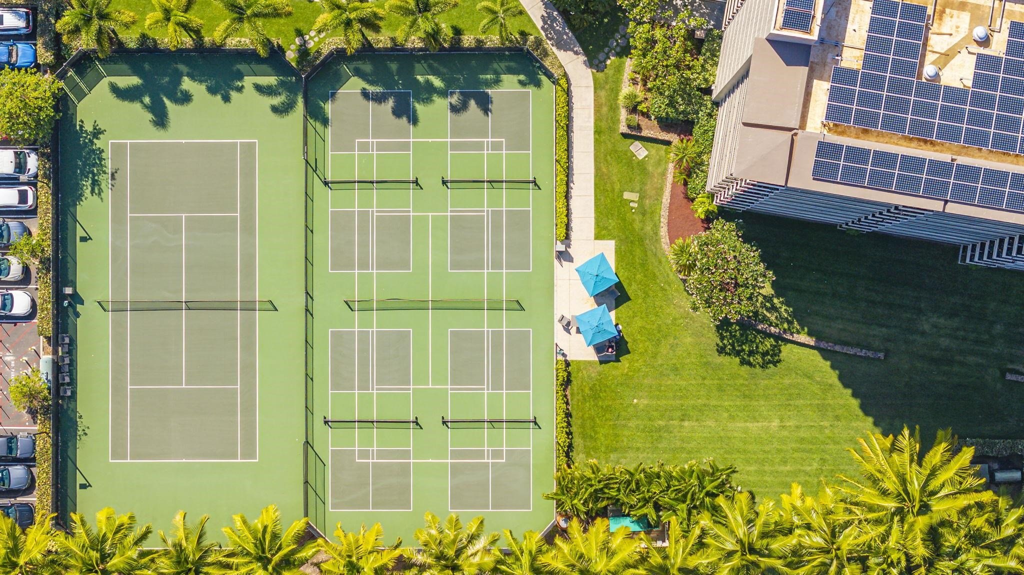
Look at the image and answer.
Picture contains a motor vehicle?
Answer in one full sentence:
Yes, there's a motor vehicle here.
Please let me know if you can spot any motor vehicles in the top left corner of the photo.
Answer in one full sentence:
Yes, I can see a motor vehicle in the top left corner of the photo.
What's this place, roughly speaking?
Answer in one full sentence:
What you see here is a sports ground.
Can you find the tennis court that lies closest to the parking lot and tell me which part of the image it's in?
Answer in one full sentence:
The tennis court that lies closest to the parking lot sits in the left section of the image.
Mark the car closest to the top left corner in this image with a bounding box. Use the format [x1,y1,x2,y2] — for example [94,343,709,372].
[0,7,34,35]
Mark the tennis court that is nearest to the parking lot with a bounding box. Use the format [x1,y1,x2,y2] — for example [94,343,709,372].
[59,53,306,548]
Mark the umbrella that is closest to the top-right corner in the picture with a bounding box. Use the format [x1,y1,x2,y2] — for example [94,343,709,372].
[575,252,619,297]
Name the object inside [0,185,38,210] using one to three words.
car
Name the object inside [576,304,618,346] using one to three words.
umbrella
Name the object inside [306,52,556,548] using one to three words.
tennis court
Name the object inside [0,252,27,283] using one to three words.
car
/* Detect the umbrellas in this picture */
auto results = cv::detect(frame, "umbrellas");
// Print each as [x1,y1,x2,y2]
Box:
[575,252,619,297]
[576,304,618,346]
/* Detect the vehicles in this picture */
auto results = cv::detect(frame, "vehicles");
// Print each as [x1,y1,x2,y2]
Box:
[0,218,30,249]
[0,501,37,533]
[0,38,39,70]
[0,7,34,35]
[0,252,27,283]
[0,147,39,177]
[0,461,33,492]
[0,288,34,319]
[0,185,38,210]
[0,431,37,461]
